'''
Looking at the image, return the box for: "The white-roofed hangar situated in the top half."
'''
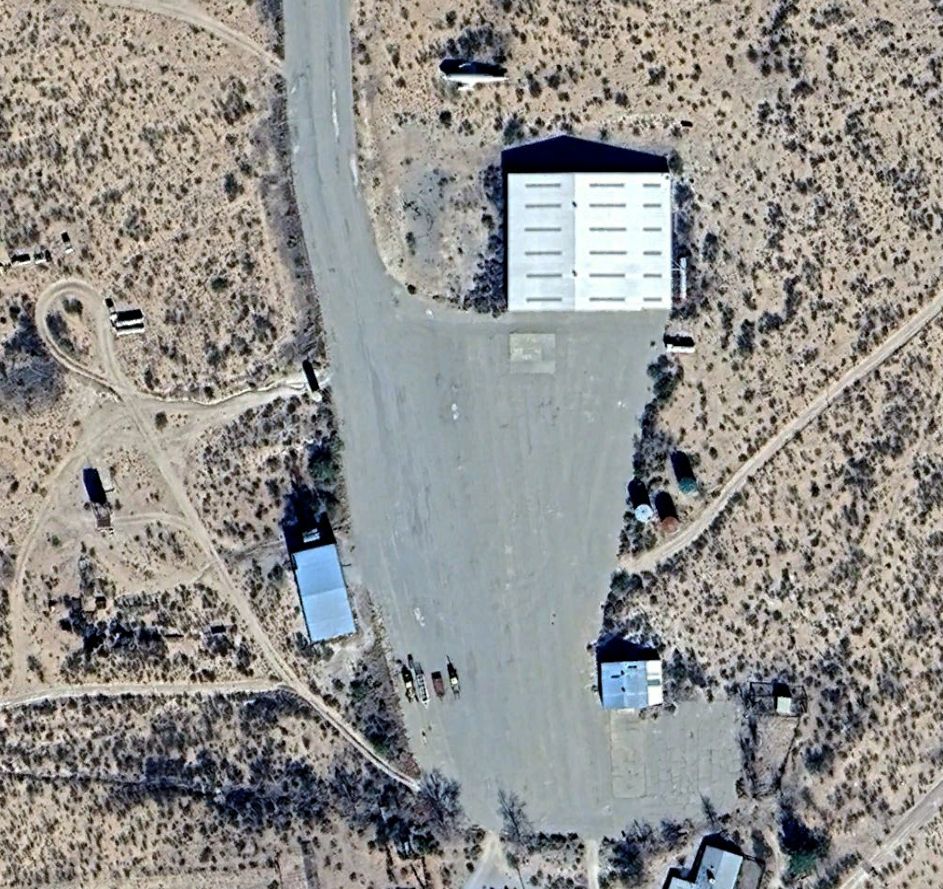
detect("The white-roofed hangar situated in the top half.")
[507,170,672,310]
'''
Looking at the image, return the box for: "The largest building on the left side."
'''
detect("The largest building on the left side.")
[291,544,355,643]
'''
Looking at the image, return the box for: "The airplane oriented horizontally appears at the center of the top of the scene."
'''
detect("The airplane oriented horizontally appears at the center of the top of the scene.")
[441,64,506,91]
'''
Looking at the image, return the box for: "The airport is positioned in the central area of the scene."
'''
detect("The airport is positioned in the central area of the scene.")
[283,0,741,838]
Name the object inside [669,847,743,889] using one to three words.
house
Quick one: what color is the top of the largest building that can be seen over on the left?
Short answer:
blue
